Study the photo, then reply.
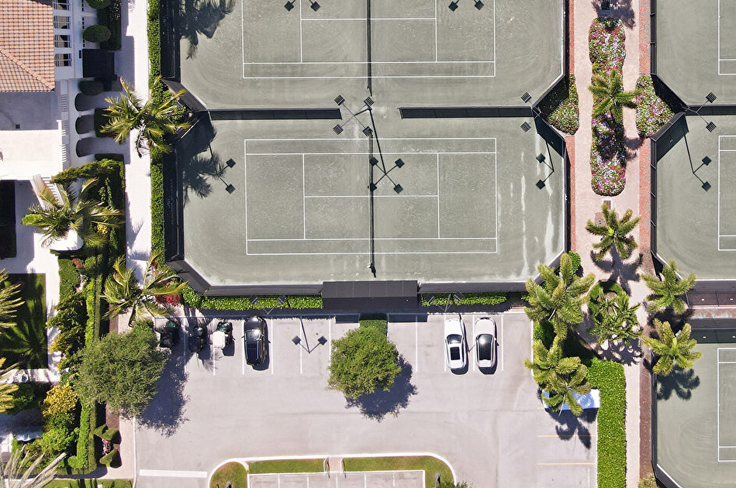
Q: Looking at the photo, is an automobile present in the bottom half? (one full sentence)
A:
Yes, an automobile is visible in the bottom half.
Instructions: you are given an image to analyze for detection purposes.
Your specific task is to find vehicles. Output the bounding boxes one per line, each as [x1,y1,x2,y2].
[242,314,270,366]
[473,316,497,368]
[443,316,468,368]
[157,320,180,352]
[213,320,233,352]
[190,322,210,354]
